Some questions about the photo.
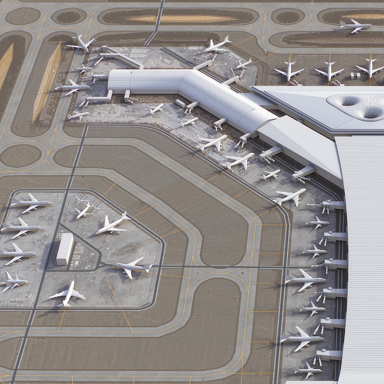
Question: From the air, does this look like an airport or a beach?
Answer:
airport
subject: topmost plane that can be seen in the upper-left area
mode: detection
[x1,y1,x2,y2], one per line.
[65,30,94,52]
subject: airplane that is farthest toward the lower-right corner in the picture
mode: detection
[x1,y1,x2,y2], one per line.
[295,362,321,379]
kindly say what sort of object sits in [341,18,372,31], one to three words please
airplane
